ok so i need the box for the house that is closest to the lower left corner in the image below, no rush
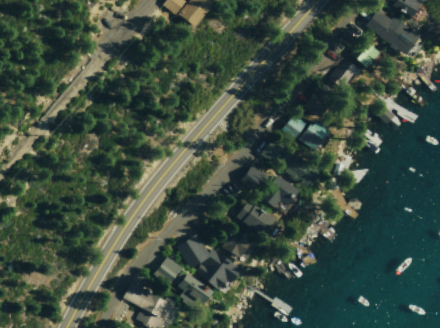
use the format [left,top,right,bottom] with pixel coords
[122,284,176,328]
